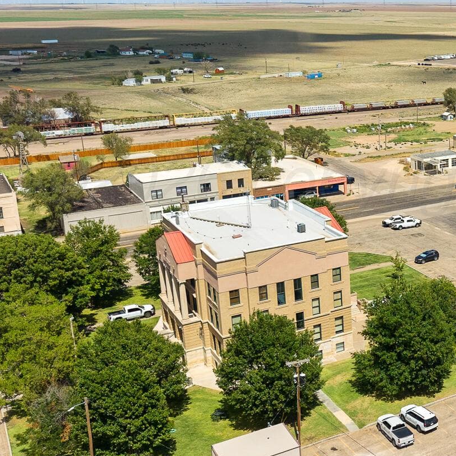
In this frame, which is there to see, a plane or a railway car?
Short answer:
railway car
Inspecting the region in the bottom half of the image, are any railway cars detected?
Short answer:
No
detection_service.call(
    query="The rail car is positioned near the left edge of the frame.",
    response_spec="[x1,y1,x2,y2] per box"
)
[1,121,96,141]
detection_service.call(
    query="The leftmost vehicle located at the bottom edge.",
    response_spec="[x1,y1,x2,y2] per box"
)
[376,415,417,446]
